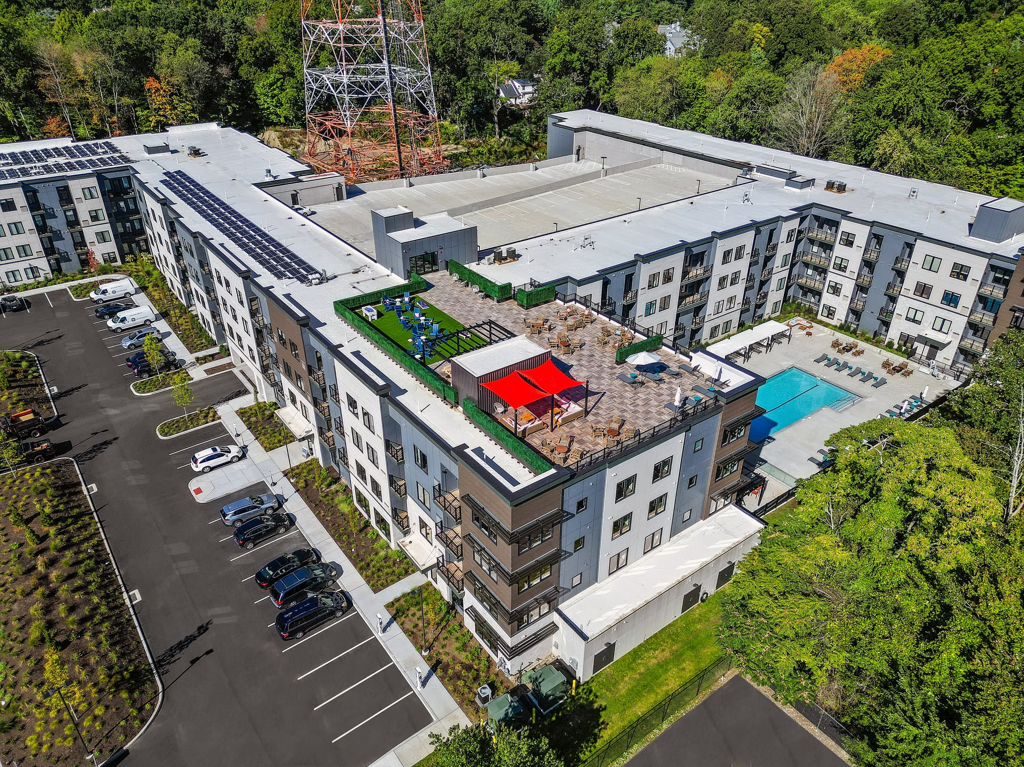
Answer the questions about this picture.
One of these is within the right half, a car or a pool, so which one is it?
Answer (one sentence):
What appears within the right half is a pool.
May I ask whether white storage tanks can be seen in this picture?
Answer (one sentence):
No, the picture doesn't show any white storage tank.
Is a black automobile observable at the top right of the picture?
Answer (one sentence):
No, there's no black automobile to be seen at the top right of the picture.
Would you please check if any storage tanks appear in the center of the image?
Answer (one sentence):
No, the scene shows no storage tank in the center of the image.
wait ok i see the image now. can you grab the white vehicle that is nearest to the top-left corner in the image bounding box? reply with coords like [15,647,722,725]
[87,277,138,304]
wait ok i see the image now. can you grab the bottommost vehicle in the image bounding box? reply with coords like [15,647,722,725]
[273,589,351,643]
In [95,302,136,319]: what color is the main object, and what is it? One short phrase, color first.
black car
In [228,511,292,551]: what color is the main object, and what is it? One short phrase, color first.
black car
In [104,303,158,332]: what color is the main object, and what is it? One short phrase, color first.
white van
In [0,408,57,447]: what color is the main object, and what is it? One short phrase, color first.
black truck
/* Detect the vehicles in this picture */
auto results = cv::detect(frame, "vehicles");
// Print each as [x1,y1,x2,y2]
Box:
[216,492,279,530]
[266,560,341,609]
[0,294,21,312]
[228,511,292,551]
[186,443,244,474]
[0,408,57,447]
[131,355,179,377]
[104,303,158,332]
[87,277,138,304]
[273,589,351,643]
[250,545,319,589]
[95,302,136,319]
[0,432,53,473]
[118,324,162,349]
